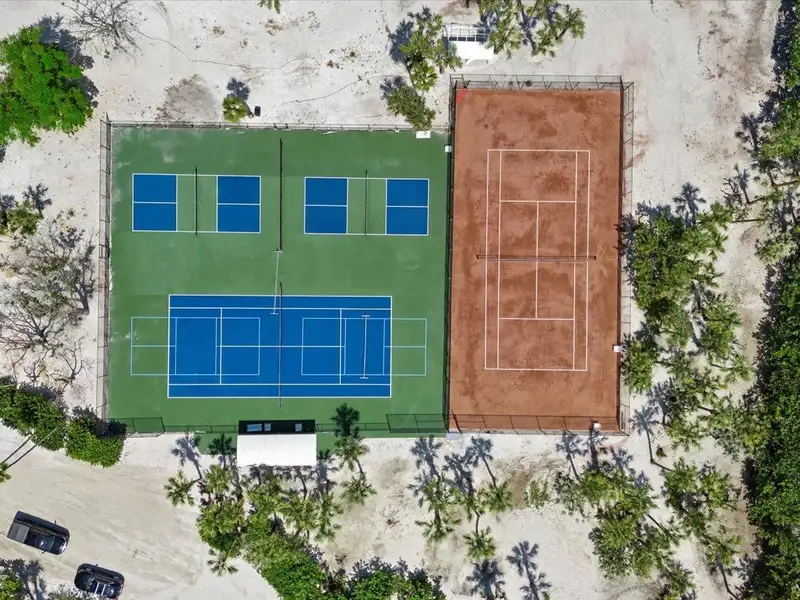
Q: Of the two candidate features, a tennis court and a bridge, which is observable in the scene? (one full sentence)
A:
There is a tennis court in the scene.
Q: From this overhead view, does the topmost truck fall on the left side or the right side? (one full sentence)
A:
You can find the topmost truck on the left side of the picture.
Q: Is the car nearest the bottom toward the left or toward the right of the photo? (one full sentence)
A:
The car nearest the bottom appears in the left half of the scene.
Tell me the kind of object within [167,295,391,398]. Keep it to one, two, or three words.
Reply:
tennis court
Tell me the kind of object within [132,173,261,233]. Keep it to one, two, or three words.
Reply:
sports court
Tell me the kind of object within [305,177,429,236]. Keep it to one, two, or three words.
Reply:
sports court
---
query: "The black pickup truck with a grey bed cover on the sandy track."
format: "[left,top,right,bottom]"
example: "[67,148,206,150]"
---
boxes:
[9,521,66,554]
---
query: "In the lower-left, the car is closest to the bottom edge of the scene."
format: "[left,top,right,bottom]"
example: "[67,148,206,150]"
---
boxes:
[76,569,125,599]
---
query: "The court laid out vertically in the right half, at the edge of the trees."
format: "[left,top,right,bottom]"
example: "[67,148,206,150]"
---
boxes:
[451,88,620,430]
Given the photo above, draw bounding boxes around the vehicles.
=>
[76,569,125,599]
[9,521,66,554]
